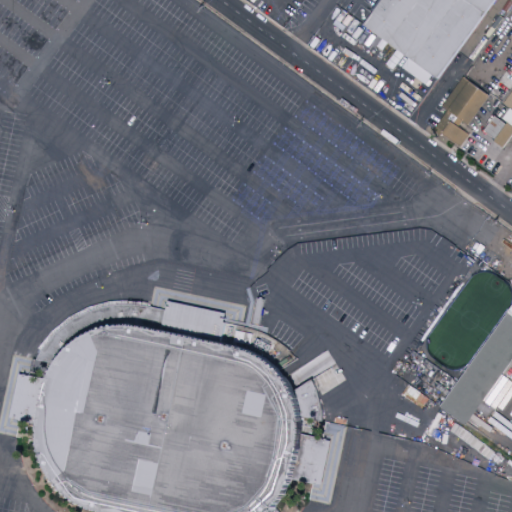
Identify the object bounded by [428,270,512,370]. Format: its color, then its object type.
green sports field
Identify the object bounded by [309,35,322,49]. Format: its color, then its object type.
white vehicle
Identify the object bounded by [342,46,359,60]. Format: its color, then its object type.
white vehicle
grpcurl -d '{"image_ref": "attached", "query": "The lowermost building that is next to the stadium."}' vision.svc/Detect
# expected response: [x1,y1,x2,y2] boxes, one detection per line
[297,434,332,484]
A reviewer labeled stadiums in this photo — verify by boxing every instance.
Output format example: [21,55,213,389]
[34,325,304,512]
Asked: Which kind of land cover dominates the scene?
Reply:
paved ground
